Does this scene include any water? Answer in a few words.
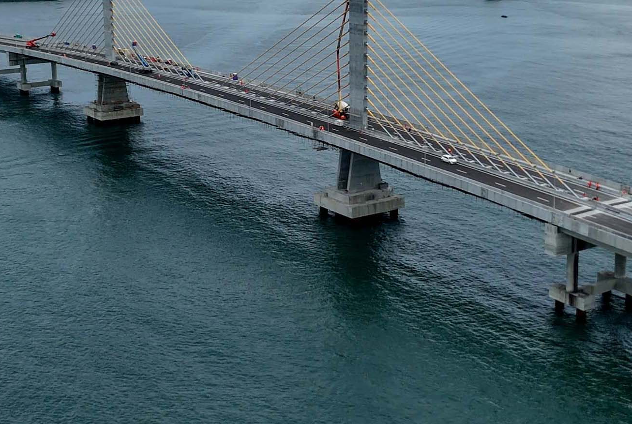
Yes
